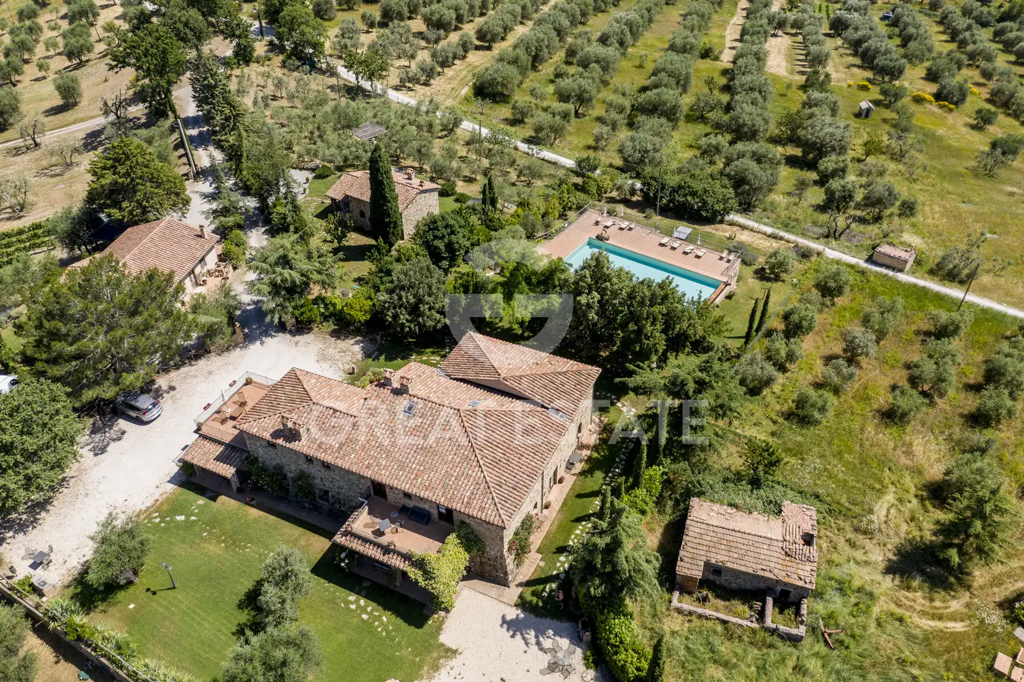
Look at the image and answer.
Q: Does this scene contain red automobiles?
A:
No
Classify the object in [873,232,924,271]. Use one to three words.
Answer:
shed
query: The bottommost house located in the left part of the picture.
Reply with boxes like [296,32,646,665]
[182,329,604,605]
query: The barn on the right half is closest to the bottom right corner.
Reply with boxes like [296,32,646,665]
[675,494,820,605]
